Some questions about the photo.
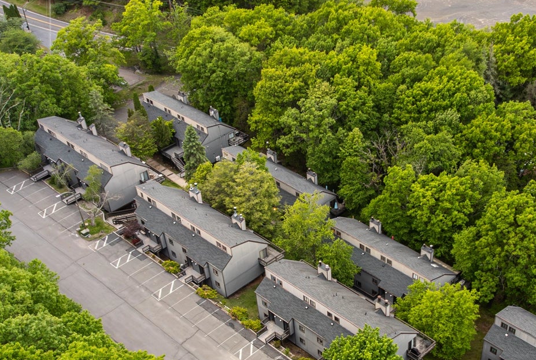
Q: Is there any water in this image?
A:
No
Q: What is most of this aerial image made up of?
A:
trees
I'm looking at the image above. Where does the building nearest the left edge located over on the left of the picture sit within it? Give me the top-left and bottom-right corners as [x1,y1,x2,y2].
[32,111,165,211]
